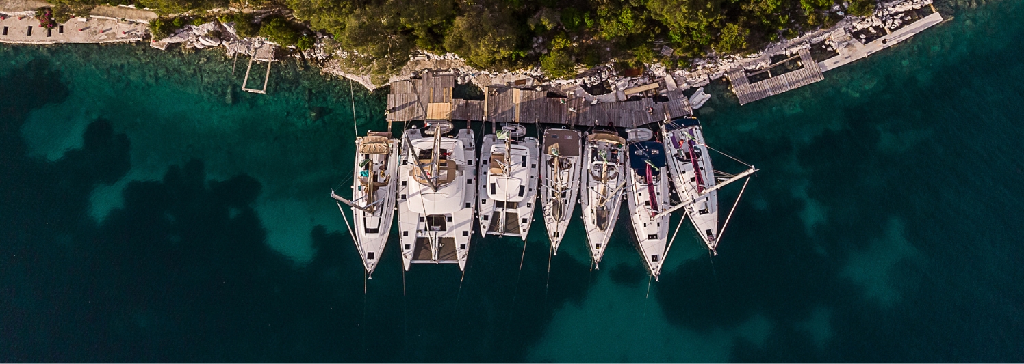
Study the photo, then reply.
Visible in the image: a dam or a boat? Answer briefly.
boat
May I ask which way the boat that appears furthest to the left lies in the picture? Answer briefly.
vertically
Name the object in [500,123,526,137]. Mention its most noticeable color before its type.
gray boat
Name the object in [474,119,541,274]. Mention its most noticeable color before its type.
white boat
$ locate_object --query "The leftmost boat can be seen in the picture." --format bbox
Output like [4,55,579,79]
[331,81,405,300]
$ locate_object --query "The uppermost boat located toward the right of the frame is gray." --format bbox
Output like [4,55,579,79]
[689,83,713,110]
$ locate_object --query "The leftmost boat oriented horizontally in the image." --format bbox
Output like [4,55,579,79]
[423,121,453,135]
